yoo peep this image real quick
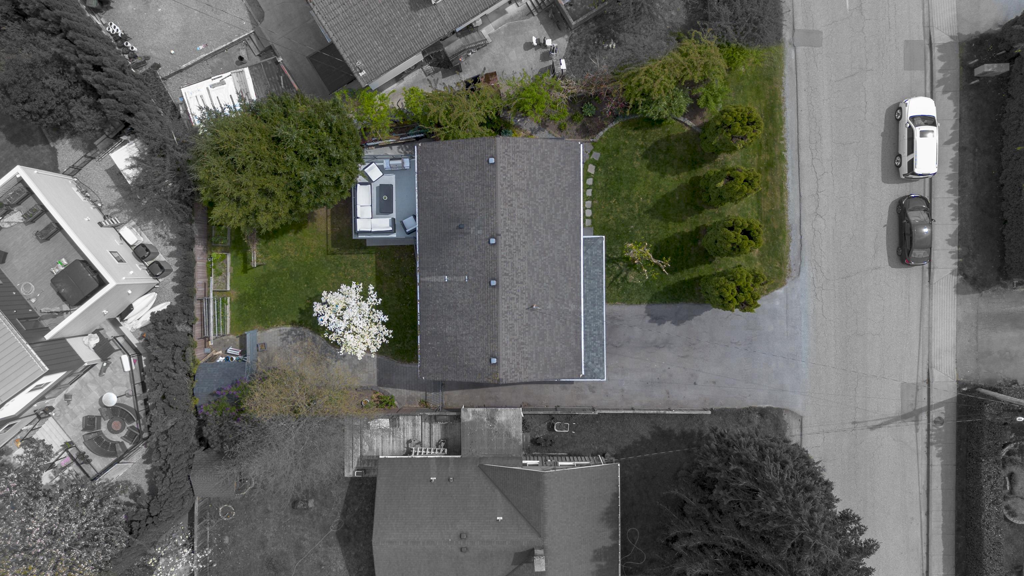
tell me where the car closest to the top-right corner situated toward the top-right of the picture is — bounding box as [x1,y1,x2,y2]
[893,99,939,182]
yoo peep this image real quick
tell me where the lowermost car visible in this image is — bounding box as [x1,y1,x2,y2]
[896,194,937,267]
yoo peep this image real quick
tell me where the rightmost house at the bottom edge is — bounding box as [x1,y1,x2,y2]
[372,440,621,576]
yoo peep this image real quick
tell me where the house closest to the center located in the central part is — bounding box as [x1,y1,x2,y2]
[416,136,607,383]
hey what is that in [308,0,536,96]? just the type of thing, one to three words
house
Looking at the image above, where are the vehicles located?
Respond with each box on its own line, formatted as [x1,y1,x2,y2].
[893,99,939,182]
[896,194,937,267]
